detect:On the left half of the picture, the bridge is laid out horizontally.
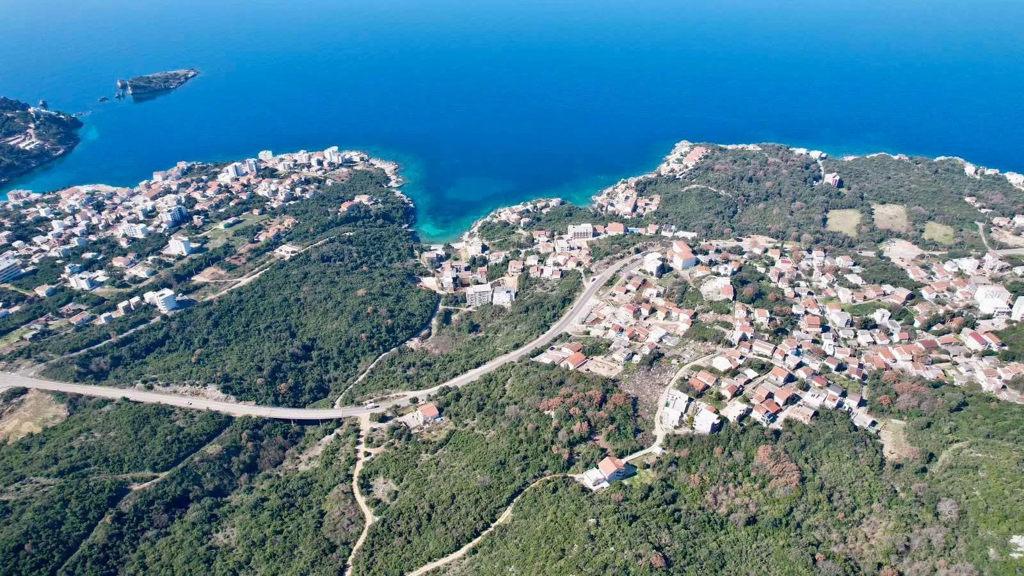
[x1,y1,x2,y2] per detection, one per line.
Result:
[223,404,366,433]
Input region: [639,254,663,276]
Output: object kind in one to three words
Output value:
building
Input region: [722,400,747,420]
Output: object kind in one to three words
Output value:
house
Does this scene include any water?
Yes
